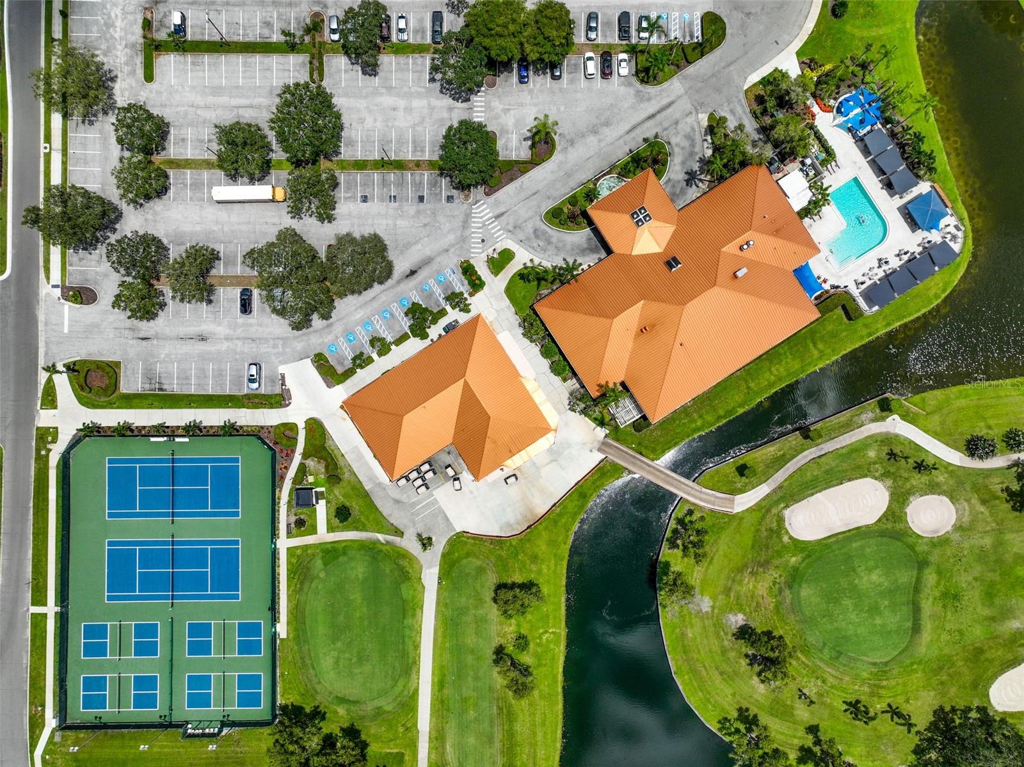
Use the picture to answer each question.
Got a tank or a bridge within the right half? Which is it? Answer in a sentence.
It is a bridge that can be seen within the right half.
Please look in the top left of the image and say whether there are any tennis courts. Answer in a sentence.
No, in the top left of the image there is no tennis court.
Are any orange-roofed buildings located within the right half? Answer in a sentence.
Yes, an orange-roofed building appears within the right half.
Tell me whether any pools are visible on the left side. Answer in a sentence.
No, I see no pool on the left side.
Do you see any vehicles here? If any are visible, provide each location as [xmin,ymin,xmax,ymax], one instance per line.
[173,13,187,37]
[412,474,427,487]
[239,288,253,315]
[616,51,629,79]
[420,460,433,473]
[638,14,649,42]
[618,11,631,41]
[586,12,599,41]
[407,467,421,479]
[424,467,438,480]
[453,477,462,490]
[417,482,431,495]
[247,363,261,389]
[600,51,613,79]
[550,56,563,84]
[444,462,457,476]
[517,58,530,86]
[431,10,444,45]
[396,475,411,487]
[505,473,519,485]
[396,15,409,42]
[209,184,284,204]
[583,51,596,79]
[384,14,392,43]
[327,14,341,43]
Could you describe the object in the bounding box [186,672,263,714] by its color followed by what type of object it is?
blue sports court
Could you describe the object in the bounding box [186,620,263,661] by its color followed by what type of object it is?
blue sports court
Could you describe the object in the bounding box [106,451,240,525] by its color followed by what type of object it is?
blue tennis court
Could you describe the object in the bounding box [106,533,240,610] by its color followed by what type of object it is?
blue tennis court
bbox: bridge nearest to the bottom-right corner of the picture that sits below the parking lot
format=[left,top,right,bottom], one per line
[598,437,735,514]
